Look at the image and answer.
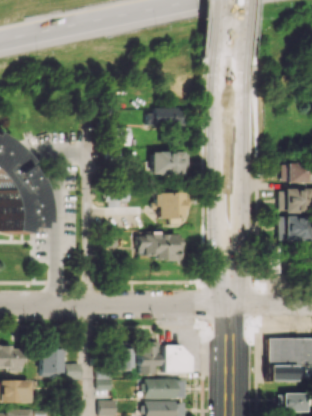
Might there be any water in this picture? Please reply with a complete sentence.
No, water can't be seen anywhere here.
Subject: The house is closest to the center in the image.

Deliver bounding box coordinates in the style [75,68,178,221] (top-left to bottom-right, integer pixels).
[156,192,190,220]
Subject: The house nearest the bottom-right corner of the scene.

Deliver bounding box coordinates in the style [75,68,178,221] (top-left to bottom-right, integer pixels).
[278,392,312,412]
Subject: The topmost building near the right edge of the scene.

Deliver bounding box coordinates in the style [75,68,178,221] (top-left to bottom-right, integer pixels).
[281,164,312,184]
